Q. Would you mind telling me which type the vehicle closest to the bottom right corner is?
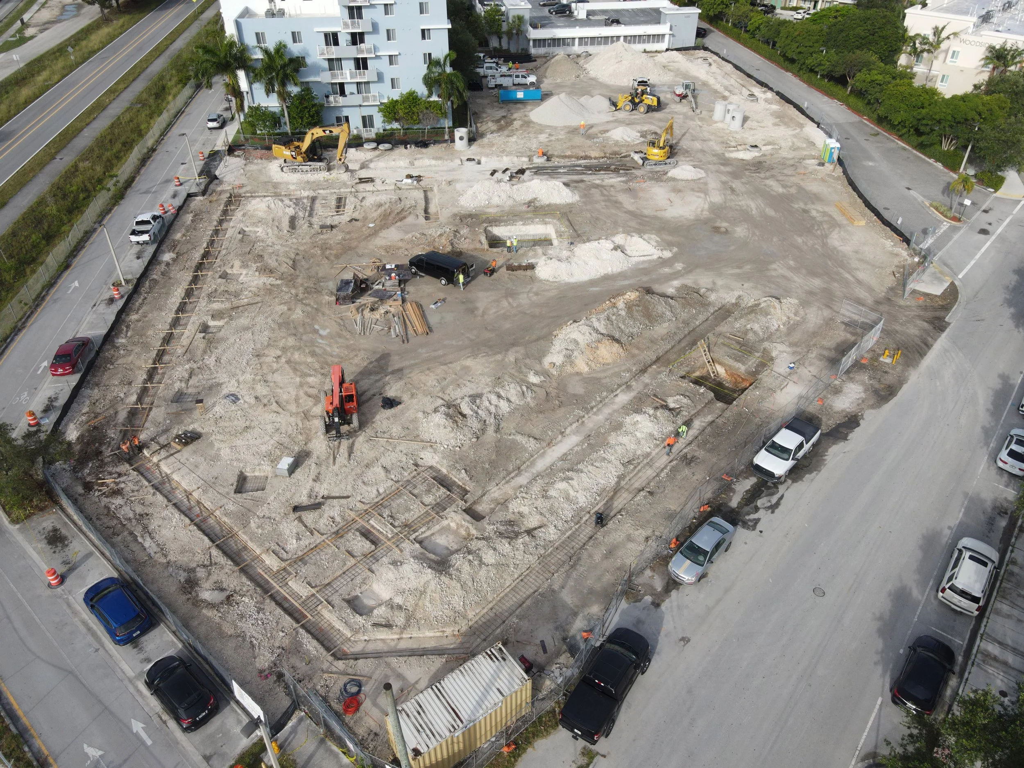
car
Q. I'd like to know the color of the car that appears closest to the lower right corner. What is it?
black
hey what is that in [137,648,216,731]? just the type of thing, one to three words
car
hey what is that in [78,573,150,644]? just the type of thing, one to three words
car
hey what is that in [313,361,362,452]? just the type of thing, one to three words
work vehicle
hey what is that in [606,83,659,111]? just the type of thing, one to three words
work vehicle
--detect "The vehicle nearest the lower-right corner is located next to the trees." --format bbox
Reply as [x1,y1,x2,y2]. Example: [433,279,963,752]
[896,625,967,712]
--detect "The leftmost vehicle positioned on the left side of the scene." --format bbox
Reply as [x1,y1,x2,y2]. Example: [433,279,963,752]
[48,328,96,366]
